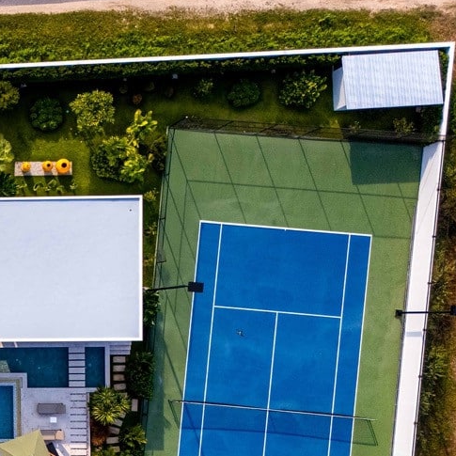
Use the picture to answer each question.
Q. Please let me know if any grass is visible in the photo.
Yes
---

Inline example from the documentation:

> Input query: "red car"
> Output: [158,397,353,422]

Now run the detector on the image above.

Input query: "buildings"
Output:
[326,51,444,115]
[0,195,142,342]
